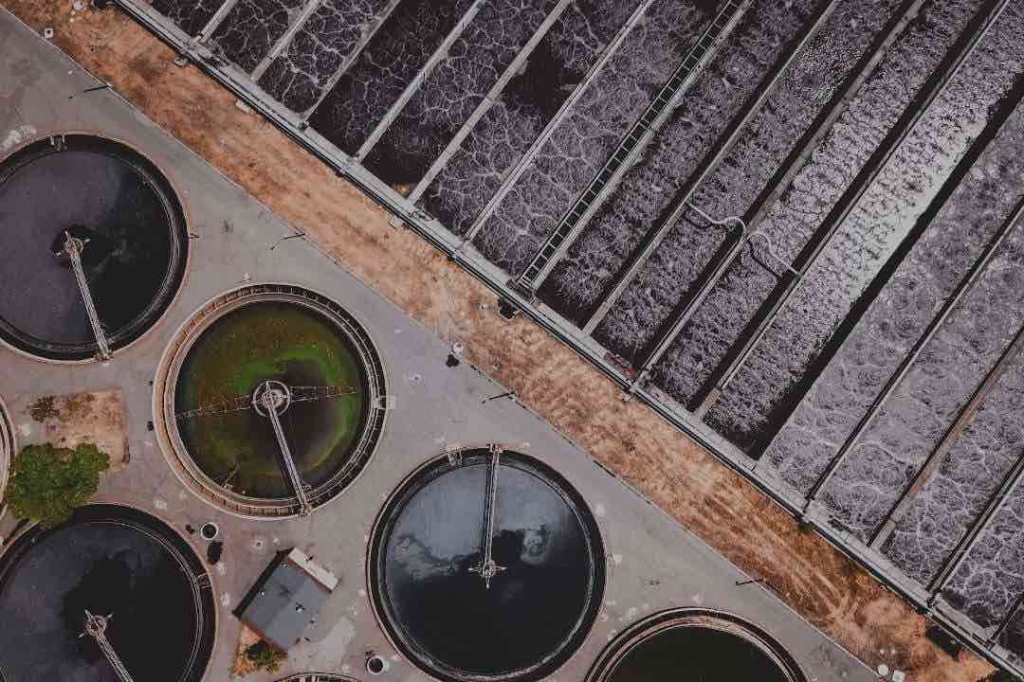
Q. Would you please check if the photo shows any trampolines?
No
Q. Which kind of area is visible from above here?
industrial area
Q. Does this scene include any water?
Yes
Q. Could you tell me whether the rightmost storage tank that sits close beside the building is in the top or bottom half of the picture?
bottom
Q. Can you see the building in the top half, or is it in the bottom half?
bottom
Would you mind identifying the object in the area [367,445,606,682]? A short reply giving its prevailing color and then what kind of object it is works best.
gray storage tank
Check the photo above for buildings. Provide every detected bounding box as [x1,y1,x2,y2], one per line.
[239,546,340,651]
